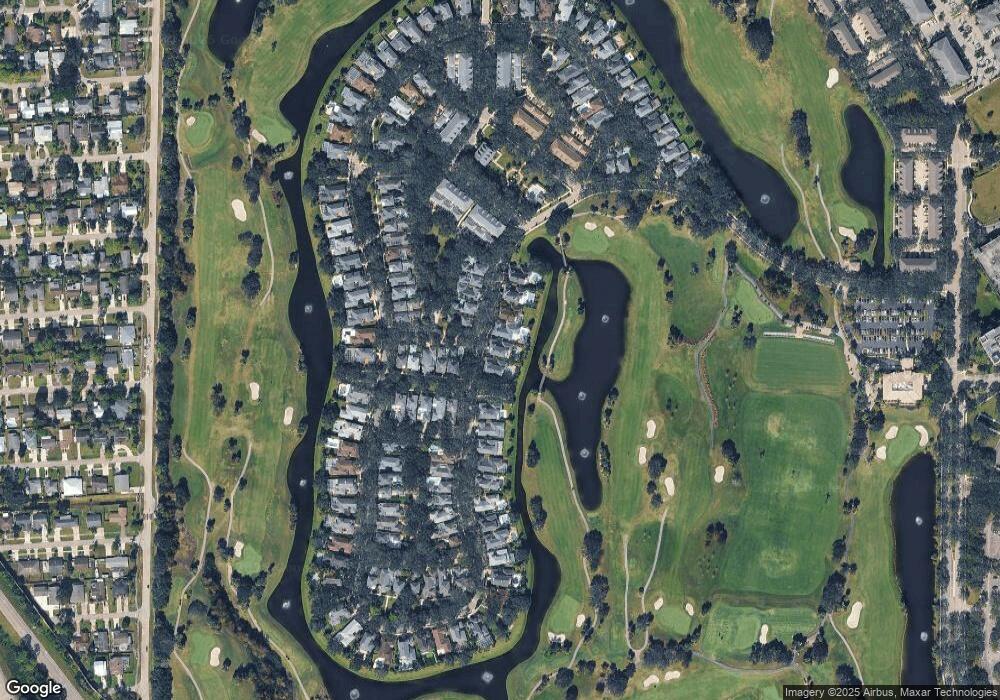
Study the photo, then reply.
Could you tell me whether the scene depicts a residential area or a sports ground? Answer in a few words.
residential area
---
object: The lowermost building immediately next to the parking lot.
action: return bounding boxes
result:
[883,358,925,405]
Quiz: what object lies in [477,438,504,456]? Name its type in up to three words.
house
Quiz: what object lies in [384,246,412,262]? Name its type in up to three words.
house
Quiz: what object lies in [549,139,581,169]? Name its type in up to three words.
building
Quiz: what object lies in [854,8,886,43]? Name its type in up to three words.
building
